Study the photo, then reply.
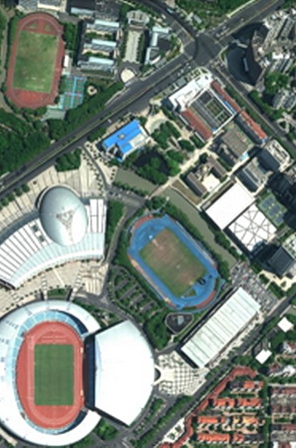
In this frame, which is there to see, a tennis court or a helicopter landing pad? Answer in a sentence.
Of the two, only a tennis court appears.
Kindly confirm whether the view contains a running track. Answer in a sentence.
Yes, this view includes a running track.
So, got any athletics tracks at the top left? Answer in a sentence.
Yes, you'll find an athletics track at the top left.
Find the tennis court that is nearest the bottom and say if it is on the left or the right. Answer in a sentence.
You can find the tennis court that is nearest the bottom on the right side of the picture.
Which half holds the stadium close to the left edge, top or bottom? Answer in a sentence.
The bottom half of the photo is where the stadium close to the left edge is.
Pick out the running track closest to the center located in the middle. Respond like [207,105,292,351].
[127,215,218,309]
